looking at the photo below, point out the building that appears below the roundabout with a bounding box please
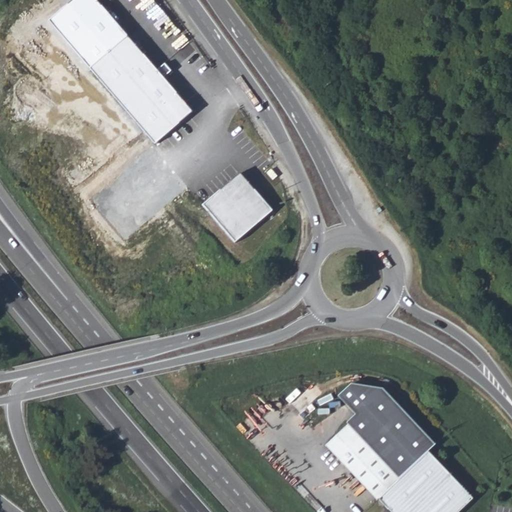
[326,384,474,512]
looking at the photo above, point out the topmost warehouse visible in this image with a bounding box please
[48,0,192,143]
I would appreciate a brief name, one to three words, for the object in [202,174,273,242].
building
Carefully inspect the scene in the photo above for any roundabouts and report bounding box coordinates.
[278,187,414,331]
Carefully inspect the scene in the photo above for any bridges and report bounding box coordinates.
[14,335,186,402]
